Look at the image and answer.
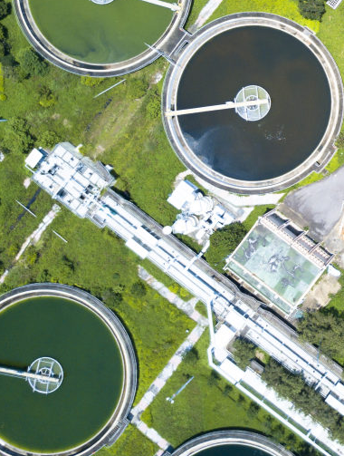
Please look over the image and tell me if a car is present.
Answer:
No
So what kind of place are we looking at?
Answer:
industrial area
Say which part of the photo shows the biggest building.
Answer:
right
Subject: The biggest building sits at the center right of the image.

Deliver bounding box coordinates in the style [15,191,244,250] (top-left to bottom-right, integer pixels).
[221,209,332,315]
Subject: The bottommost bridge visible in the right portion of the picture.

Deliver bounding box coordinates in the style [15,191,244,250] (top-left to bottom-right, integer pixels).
[160,98,266,120]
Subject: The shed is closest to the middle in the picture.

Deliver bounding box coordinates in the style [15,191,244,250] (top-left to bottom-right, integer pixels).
[167,179,202,209]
